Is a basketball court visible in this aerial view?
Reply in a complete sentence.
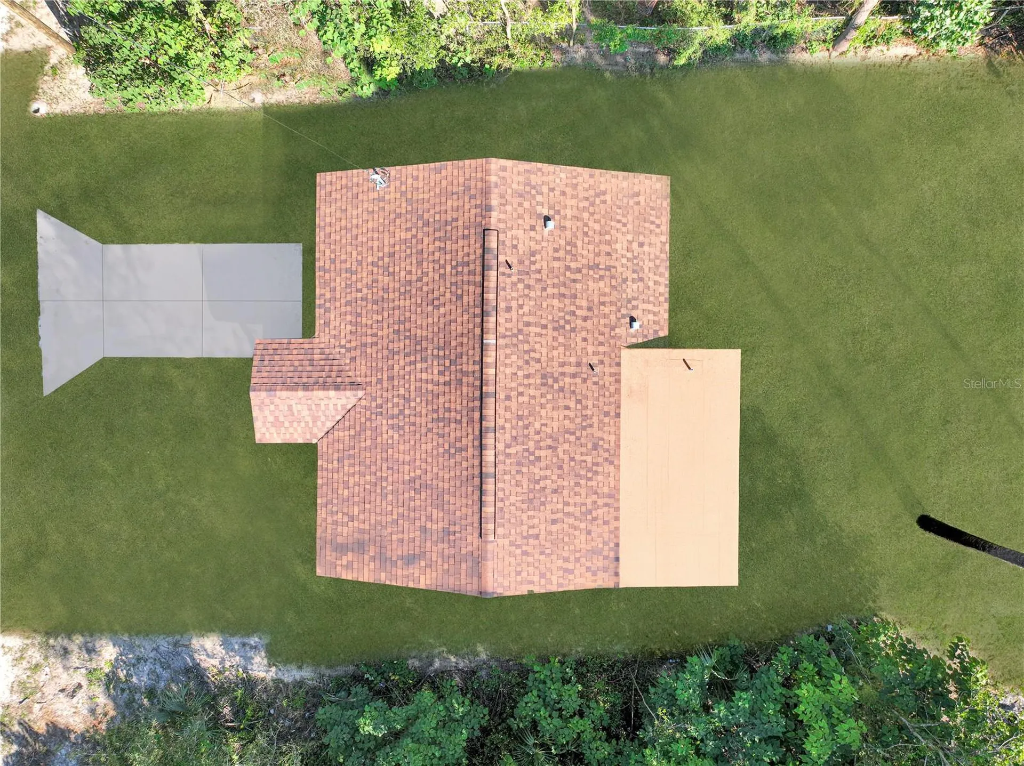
No, I can see no basketball court in this picture.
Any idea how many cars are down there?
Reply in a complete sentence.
The count of cars is 0.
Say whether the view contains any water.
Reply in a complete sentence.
No, water can't be seen anywhere here.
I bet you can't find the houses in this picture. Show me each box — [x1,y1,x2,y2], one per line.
[250,158,742,598]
